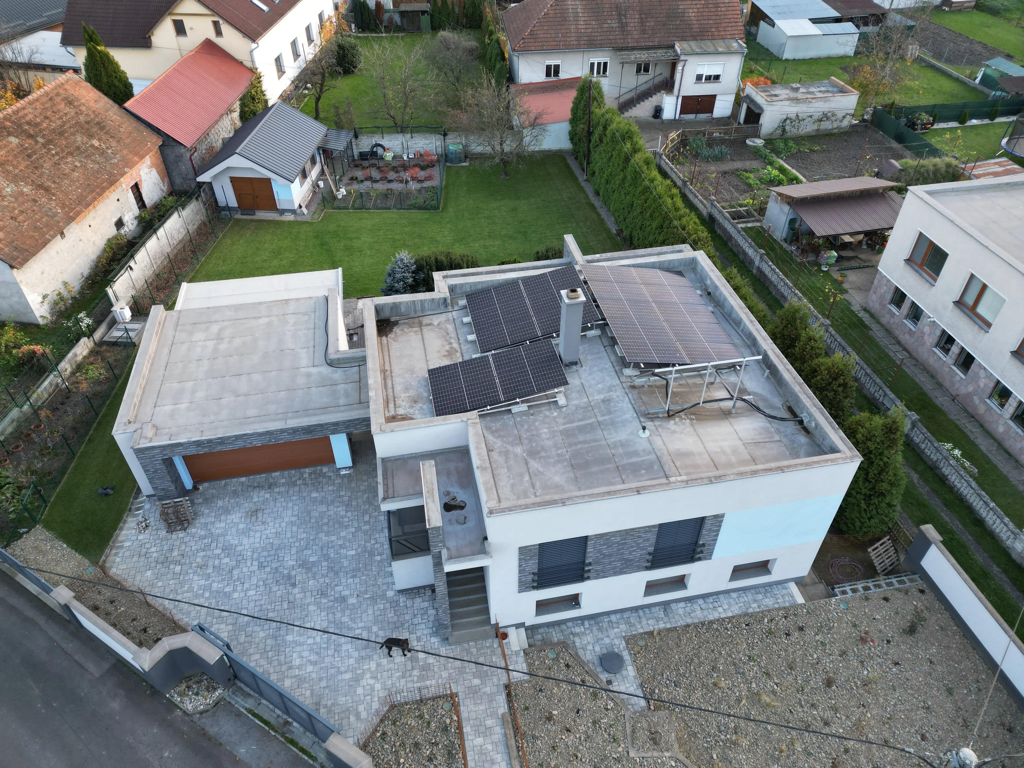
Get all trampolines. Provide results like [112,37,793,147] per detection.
[994,103,1024,160]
